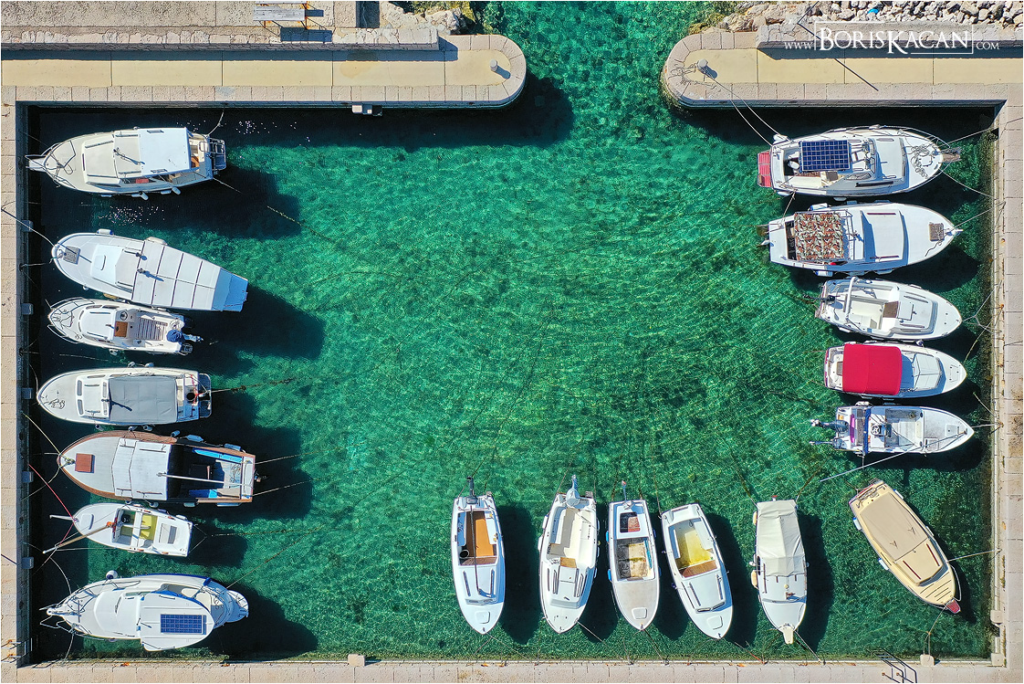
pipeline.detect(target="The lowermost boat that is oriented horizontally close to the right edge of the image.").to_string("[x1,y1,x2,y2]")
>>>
[807,405,975,466]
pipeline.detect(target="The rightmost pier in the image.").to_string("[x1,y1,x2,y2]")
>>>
[657,24,1024,112]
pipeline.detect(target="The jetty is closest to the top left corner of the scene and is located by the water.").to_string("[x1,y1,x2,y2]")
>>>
[0,26,529,112]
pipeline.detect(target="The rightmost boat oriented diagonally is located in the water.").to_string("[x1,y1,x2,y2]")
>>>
[847,480,962,613]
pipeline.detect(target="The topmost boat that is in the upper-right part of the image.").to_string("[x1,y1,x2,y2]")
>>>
[756,126,959,200]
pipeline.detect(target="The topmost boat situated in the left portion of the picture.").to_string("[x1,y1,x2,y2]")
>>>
[24,127,226,195]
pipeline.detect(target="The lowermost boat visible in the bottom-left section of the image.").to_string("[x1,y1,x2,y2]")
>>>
[40,569,248,650]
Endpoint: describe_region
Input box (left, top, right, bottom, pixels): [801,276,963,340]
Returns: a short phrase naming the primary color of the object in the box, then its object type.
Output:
white boat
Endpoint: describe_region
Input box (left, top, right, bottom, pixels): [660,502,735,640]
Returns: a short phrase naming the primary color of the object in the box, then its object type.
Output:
white boat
